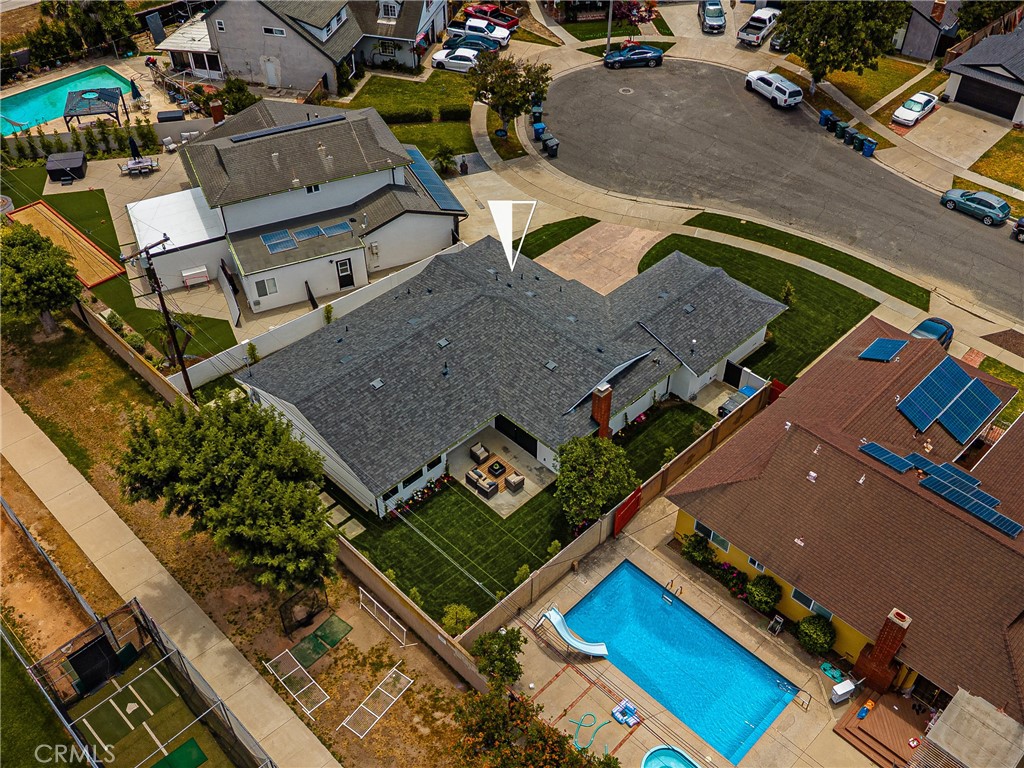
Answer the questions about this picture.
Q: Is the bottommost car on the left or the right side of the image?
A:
right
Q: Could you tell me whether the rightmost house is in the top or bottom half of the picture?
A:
top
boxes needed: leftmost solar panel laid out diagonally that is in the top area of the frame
[404,147,464,211]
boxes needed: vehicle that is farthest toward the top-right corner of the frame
[897,91,940,121]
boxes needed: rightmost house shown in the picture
[940,21,1024,123]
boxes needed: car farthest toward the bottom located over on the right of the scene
[913,318,968,353]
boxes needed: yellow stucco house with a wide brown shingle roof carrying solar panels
[660,317,1024,757]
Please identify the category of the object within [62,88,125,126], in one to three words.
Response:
gazebo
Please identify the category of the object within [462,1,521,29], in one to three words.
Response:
truck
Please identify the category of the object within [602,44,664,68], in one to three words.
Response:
car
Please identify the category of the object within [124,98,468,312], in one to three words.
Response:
house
